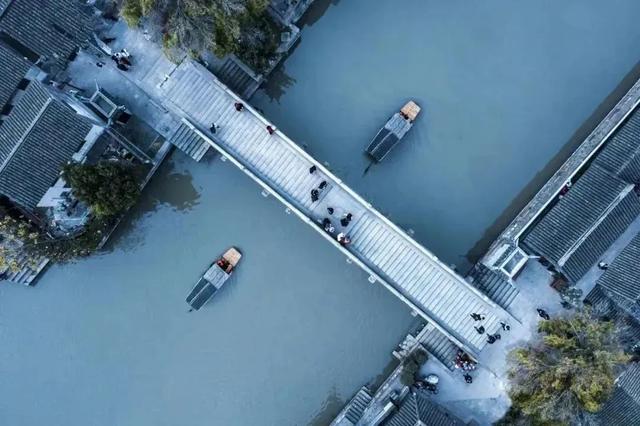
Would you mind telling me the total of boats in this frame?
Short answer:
2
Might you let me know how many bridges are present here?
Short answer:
1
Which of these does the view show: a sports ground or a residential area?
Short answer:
residential area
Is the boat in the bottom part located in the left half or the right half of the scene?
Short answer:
left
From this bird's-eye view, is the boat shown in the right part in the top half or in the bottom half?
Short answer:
top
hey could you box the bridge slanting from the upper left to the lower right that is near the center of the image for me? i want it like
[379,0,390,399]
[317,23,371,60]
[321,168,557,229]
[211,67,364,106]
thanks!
[158,63,519,377]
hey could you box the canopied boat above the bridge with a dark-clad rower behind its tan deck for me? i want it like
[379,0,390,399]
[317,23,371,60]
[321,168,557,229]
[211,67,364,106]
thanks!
[361,98,422,166]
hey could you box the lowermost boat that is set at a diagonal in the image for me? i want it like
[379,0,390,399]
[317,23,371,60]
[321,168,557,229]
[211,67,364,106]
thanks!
[184,246,243,314]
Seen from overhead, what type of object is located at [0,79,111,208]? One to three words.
house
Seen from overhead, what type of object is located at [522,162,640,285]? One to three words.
house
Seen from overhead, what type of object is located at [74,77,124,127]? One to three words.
building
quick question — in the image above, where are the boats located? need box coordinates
[184,246,243,314]
[361,98,422,166]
